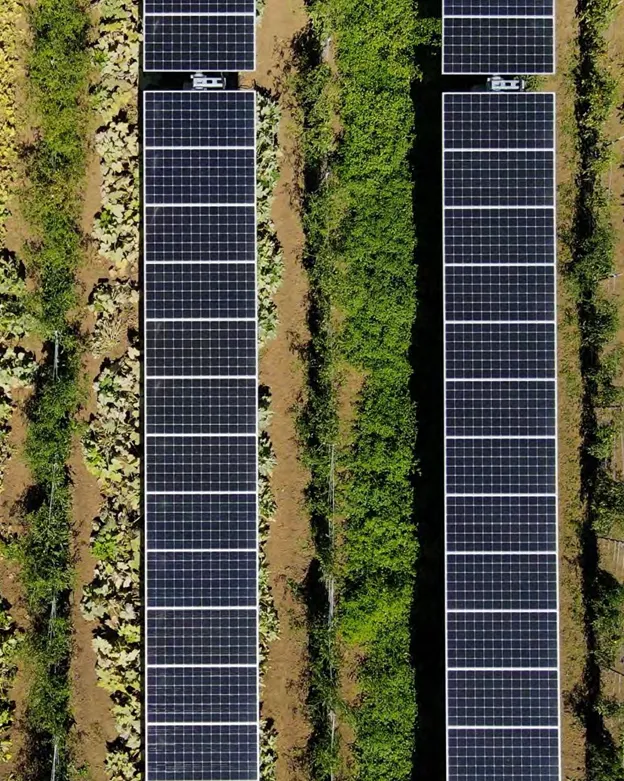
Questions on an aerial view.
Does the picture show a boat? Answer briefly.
No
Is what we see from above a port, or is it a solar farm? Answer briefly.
solar farm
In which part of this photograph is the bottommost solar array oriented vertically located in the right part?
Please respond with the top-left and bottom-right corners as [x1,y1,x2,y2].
[442,91,561,781]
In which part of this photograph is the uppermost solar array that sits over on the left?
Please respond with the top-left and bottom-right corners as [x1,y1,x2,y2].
[143,0,256,79]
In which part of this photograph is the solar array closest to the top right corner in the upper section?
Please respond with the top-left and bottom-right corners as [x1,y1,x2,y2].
[441,0,555,82]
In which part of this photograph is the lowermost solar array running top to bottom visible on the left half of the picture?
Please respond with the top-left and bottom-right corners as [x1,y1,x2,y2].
[143,91,259,781]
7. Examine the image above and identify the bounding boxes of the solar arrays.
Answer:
[442,91,561,781]
[143,91,259,781]
[441,0,555,82]
[143,0,256,79]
